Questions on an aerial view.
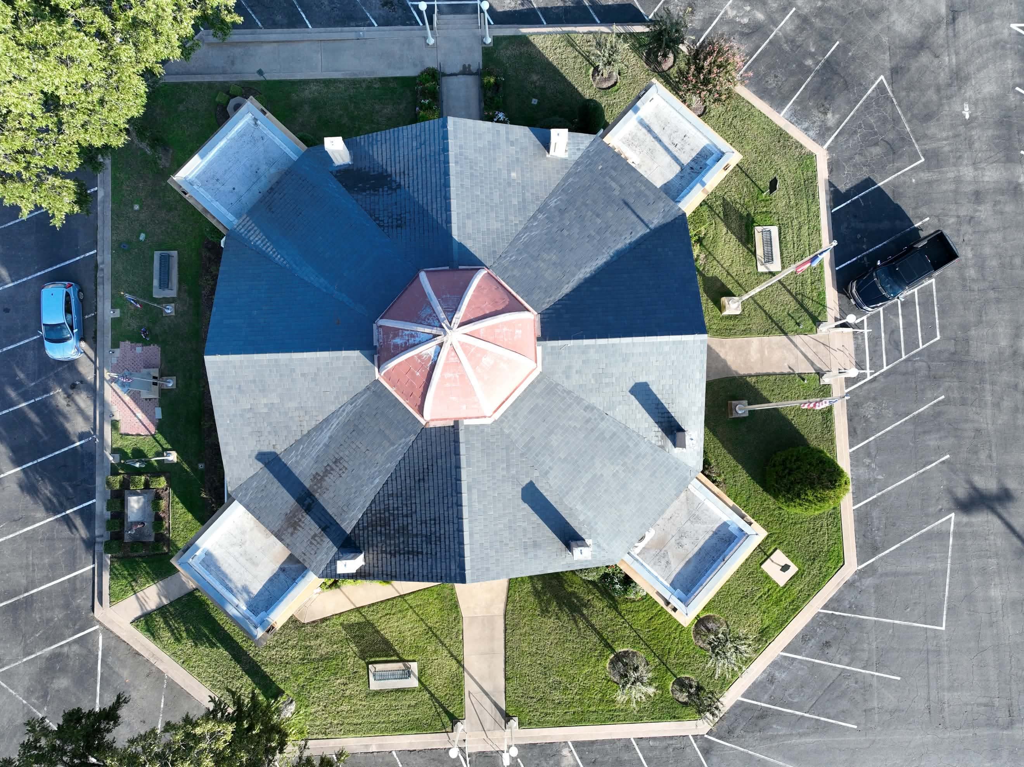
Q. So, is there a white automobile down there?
No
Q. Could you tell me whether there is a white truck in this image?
No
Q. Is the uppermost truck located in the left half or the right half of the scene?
right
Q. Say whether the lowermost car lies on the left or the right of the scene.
left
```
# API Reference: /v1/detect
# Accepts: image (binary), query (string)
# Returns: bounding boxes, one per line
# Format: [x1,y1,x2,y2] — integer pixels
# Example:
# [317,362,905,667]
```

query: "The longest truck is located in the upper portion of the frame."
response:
[843,229,957,315]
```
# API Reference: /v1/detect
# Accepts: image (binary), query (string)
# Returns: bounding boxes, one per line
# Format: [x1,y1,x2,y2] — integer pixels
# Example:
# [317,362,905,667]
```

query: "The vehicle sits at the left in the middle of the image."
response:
[41,284,89,360]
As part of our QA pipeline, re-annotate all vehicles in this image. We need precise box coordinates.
[843,229,957,315]
[41,284,89,360]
